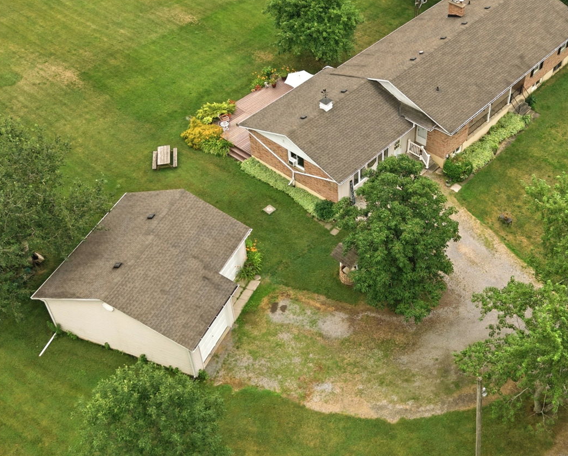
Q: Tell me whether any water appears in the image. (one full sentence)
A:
No, the scene doesn't show any water.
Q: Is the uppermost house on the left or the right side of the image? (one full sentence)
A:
The uppermost house appears in the right half of the scene.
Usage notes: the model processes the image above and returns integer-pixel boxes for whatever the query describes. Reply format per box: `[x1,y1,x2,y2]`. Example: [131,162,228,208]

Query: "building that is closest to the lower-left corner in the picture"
[31,191,254,378]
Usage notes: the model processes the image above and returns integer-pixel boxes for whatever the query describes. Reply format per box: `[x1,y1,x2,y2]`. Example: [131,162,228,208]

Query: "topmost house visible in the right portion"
[237,0,568,203]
